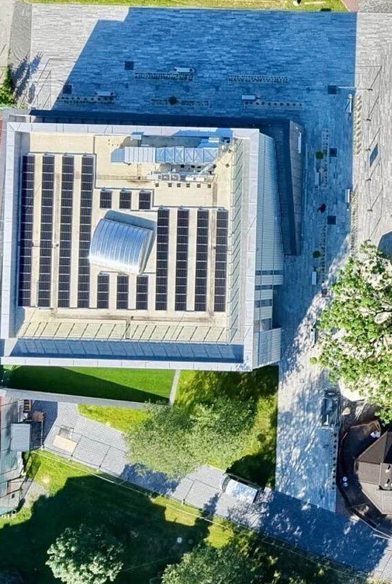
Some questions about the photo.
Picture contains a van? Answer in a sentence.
Yes, there is a van in the image.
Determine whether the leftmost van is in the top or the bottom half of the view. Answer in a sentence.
The bottom half of the photo is where the leftmost van is.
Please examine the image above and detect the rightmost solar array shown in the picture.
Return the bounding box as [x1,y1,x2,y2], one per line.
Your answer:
[215,207,229,313]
